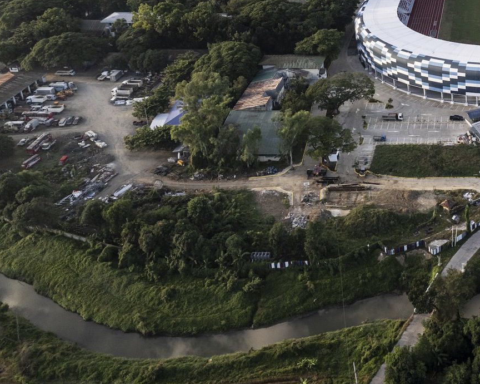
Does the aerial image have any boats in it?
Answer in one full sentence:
No, the photo shows no boat.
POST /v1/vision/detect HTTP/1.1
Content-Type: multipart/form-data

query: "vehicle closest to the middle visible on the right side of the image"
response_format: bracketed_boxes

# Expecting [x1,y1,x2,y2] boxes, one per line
[310,160,333,175]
